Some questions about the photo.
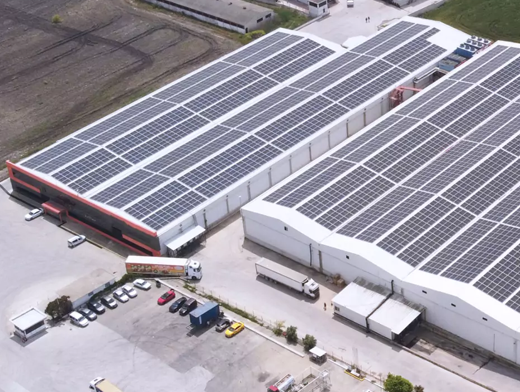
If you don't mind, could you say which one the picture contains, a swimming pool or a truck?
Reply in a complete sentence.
Of the two, only a truck appears.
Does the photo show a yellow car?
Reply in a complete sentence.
Yes, a yellow car can be made out from above.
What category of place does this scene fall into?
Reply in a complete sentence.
This image shows an industrial area.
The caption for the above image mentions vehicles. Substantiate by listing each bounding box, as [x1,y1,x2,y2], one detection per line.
[84,375,123,392]
[130,278,153,289]
[78,306,98,320]
[214,313,233,330]
[168,295,188,311]
[101,293,120,307]
[264,362,298,392]
[252,254,323,301]
[178,295,198,314]
[68,306,88,324]
[122,282,139,296]
[65,233,87,246]
[23,206,43,220]
[120,258,204,280]
[156,287,175,303]
[112,287,130,302]
[223,320,246,336]
[86,299,107,312]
